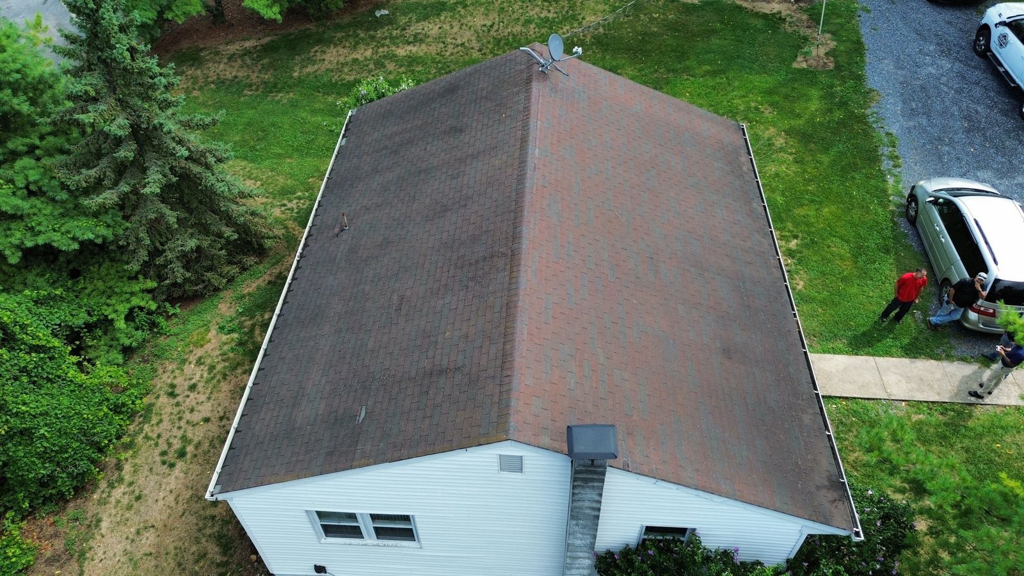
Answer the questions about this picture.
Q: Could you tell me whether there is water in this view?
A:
No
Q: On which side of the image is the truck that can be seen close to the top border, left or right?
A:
right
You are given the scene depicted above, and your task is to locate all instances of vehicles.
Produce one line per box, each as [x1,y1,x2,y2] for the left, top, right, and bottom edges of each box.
[979,16,1024,115]
[912,175,1024,323]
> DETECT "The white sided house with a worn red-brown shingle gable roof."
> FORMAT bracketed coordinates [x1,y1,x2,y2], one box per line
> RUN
[204,42,861,576]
